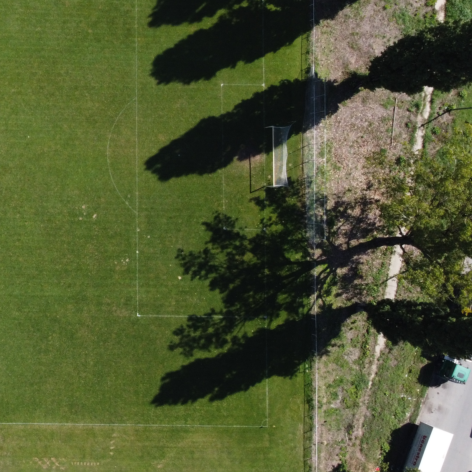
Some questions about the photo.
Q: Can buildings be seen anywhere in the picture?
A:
No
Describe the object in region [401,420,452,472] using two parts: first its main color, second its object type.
white trailer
